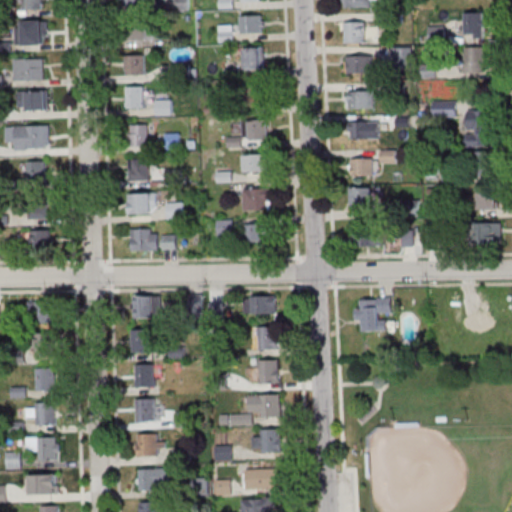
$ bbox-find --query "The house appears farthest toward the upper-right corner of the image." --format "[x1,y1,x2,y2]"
[462,12,483,45]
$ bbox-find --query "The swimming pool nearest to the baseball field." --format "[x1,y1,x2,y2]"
[400,311,420,344]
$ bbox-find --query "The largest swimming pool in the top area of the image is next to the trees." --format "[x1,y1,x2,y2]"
[170,48,196,62]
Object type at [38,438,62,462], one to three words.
house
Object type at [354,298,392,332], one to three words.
house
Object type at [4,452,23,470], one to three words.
building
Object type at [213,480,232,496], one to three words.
building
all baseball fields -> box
[370,428,512,512]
